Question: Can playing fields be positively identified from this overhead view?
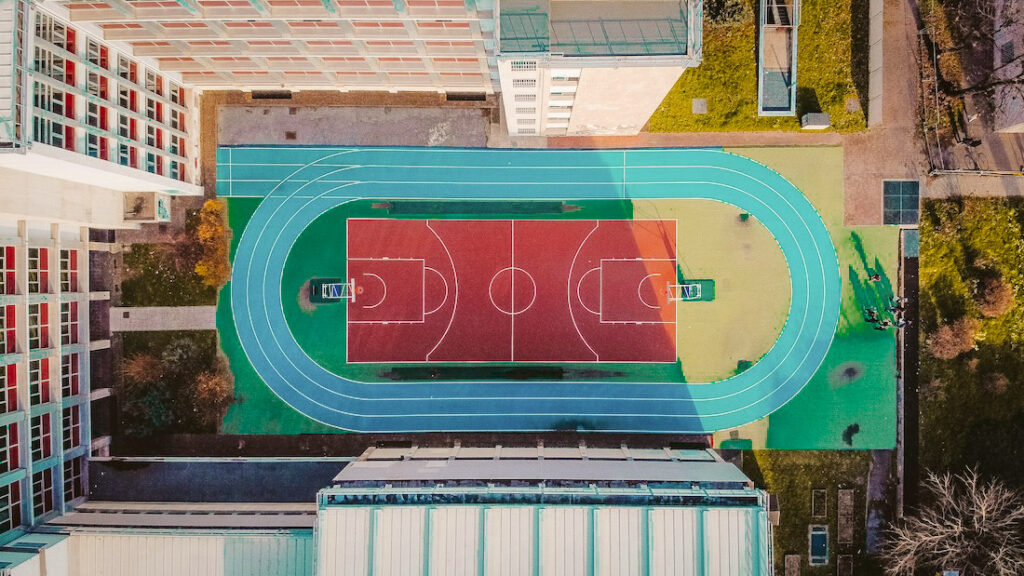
Yes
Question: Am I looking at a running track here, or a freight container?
running track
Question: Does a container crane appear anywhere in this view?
No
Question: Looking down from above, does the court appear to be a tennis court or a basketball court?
basketball court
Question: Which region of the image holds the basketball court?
center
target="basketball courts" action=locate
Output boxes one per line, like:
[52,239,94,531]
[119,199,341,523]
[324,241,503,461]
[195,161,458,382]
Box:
[347,219,677,363]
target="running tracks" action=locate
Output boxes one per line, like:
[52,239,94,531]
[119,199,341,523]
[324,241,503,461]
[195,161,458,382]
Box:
[217,146,840,432]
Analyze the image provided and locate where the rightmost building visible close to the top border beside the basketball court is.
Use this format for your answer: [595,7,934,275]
[494,0,704,134]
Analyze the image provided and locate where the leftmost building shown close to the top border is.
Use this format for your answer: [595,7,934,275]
[0,0,205,188]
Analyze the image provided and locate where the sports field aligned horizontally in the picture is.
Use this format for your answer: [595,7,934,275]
[217,147,897,448]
